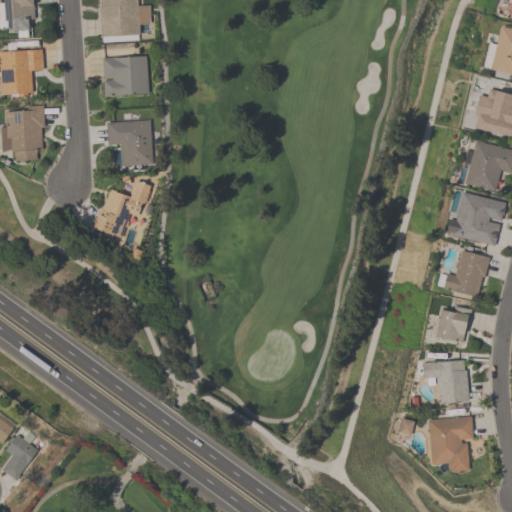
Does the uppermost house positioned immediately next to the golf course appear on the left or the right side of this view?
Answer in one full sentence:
The uppermost house positioned immediately next to the golf course appears in the left half of the scene.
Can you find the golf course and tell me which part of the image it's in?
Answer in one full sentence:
The golf course appears toward the center of the photo.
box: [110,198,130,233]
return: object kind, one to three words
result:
solar array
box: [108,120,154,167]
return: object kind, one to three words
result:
house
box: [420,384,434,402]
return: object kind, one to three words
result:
swimming pool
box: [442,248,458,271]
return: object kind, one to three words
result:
swimming pool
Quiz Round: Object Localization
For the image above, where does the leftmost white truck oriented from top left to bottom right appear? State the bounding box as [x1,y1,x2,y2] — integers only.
[16,344,57,376]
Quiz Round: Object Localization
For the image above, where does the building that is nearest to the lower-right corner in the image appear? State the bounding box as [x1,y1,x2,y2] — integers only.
[429,416,475,472]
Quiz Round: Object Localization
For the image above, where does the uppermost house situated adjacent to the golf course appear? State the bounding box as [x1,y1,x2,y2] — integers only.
[102,0,151,42]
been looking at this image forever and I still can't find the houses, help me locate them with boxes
[443,251,492,300]
[2,105,45,162]
[436,304,472,342]
[103,56,149,97]
[476,87,512,136]
[102,0,151,42]
[108,120,154,167]
[424,362,470,404]
[0,50,44,98]
[492,26,512,79]
[447,190,511,245]
[0,416,16,446]
[465,140,512,192]
[429,416,475,472]
[0,0,35,38]
[93,174,153,237]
